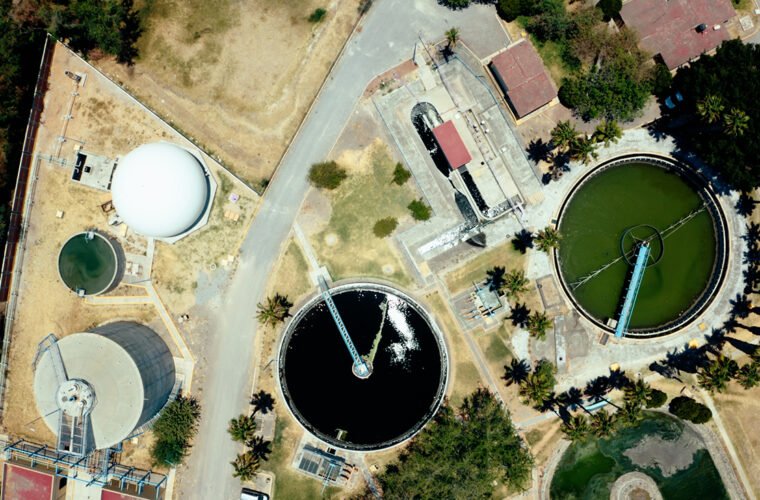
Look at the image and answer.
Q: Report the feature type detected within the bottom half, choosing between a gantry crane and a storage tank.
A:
storage tank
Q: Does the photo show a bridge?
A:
Yes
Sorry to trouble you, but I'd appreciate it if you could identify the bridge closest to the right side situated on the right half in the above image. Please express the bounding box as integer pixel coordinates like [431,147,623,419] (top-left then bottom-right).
[613,237,651,340]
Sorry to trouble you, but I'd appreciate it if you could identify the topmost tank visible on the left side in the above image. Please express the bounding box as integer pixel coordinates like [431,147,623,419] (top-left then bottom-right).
[57,231,128,295]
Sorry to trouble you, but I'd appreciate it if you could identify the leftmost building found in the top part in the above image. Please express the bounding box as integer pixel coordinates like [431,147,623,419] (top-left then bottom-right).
[478,39,560,128]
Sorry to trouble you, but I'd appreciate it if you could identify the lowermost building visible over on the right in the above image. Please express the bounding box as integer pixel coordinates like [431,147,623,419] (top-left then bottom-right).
[451,279,512,330]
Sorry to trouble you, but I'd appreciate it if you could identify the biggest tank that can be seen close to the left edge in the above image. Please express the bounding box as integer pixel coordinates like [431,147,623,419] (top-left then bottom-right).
[24,318,180,458]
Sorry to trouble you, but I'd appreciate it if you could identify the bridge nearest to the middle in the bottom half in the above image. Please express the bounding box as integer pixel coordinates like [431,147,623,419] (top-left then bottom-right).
[315,282,364,373]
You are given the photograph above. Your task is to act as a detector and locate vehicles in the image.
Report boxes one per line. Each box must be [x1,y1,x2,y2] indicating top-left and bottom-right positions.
[662,86,691,112]
[239,489,272,500]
